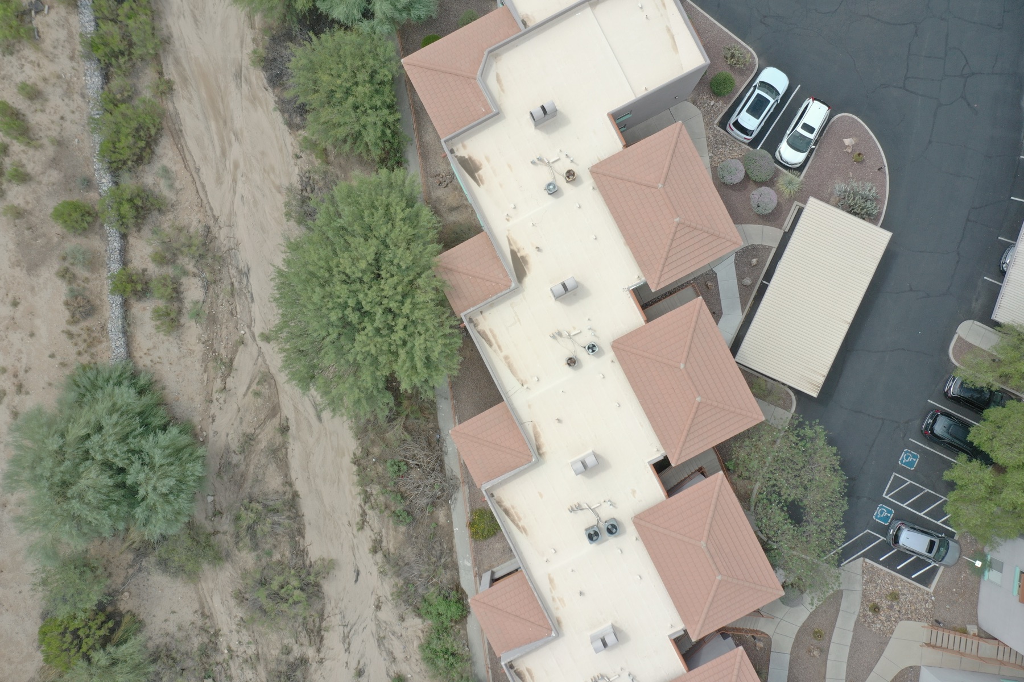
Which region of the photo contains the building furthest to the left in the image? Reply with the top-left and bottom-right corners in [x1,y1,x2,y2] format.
[401,0,787,682]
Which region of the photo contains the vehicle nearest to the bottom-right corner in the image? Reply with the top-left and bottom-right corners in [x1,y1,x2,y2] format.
[879,518,961,571]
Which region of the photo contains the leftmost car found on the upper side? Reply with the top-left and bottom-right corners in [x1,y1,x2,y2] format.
[725,67,786,149]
